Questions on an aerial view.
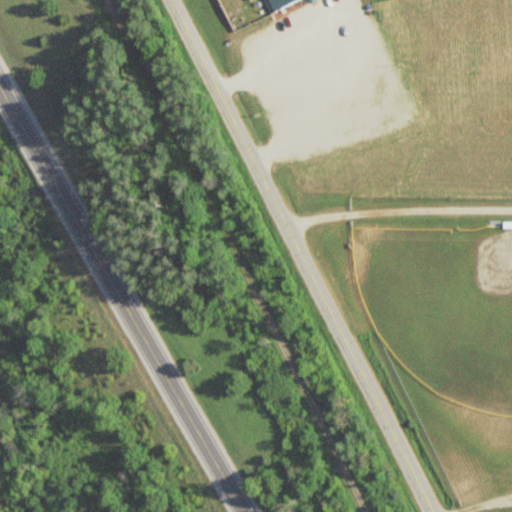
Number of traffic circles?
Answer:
0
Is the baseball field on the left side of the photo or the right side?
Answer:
right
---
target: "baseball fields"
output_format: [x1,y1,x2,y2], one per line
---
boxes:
[353,230,512,412]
